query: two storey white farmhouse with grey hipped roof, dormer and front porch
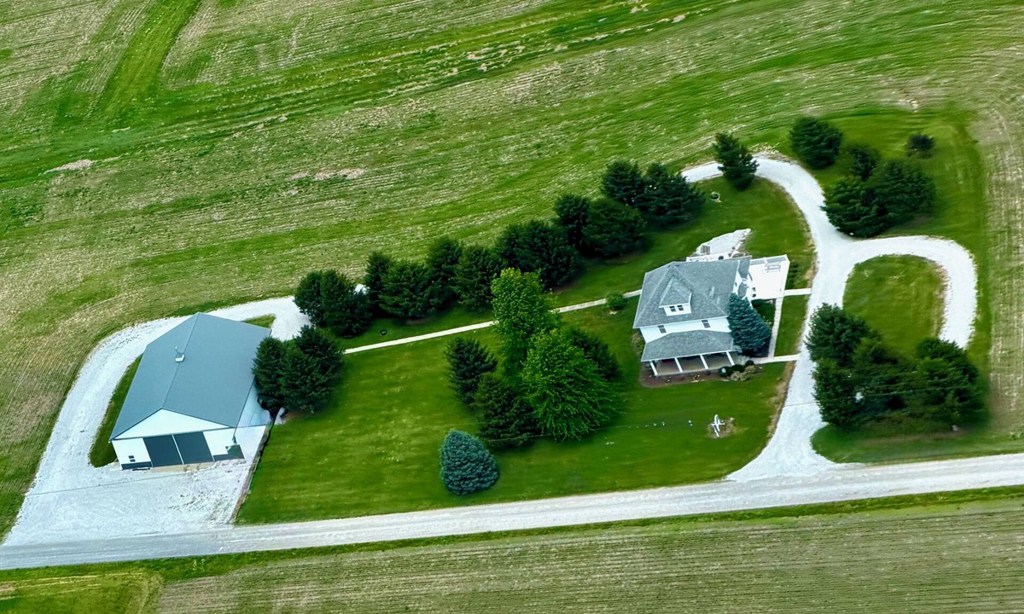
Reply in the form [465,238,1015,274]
[633,250,791,382]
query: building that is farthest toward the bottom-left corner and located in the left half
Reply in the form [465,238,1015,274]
[107,310,275,469]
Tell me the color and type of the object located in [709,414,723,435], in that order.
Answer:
white windmill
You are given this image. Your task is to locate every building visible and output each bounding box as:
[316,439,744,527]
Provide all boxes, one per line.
[107,310,275,469]
[633,250,791,382]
